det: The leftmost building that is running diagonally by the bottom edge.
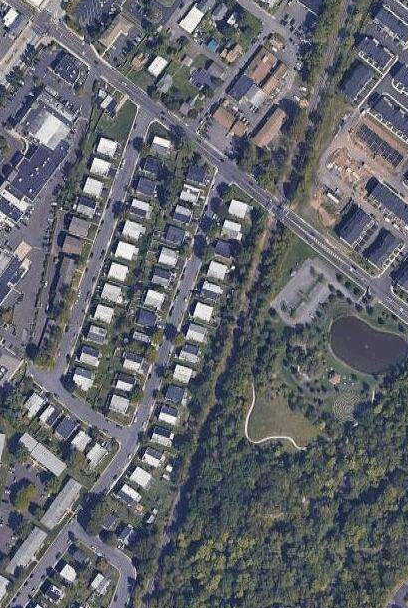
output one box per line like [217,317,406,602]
[6,526,46,578]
